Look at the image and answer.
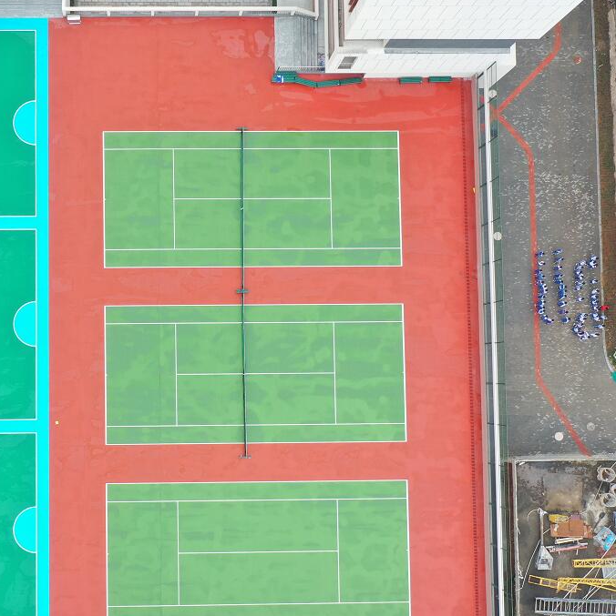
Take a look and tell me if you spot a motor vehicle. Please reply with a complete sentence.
No, I find no motor vehicle anywhere in the image.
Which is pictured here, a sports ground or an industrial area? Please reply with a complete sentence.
The picture captures a sports ground.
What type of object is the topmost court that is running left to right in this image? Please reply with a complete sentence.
It looks like the topmost court that is running left to right is a tennis court.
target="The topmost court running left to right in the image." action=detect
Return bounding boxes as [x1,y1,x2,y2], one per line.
[103,129,403,268]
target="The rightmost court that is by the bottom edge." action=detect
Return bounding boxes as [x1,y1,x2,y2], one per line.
[107,480,411,616]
